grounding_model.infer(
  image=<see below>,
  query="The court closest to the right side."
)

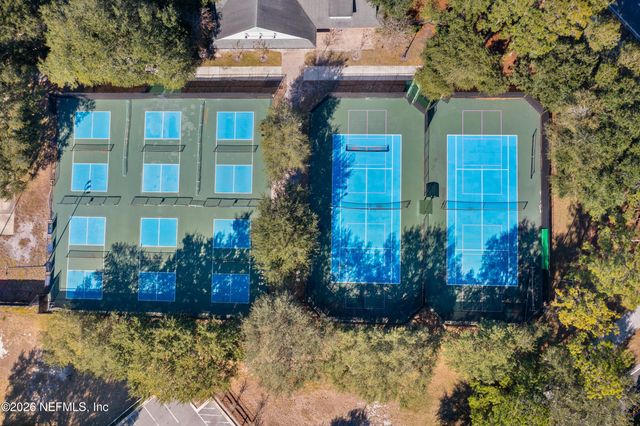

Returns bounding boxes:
[447,110,518,310]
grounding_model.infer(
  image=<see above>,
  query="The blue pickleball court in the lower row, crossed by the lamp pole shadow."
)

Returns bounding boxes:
[66,217,106,299]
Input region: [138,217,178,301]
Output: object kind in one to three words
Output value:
sports court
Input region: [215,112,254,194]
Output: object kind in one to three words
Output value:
sports court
